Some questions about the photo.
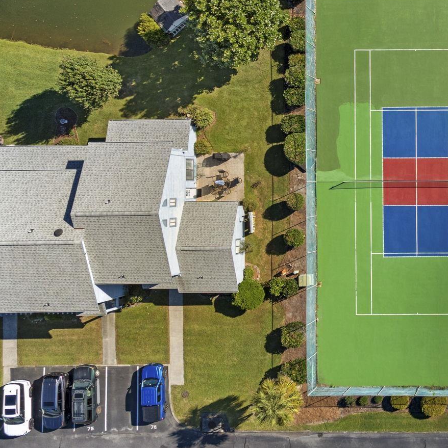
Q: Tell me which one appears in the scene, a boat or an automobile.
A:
automobile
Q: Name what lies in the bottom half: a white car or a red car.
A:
white car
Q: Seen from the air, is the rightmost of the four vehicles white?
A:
No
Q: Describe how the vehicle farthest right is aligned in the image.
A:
up and down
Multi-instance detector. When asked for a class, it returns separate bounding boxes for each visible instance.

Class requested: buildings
[149,0,201,46]
[0,119,245,313]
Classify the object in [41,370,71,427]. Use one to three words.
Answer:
car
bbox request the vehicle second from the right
[70,364,102,422]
